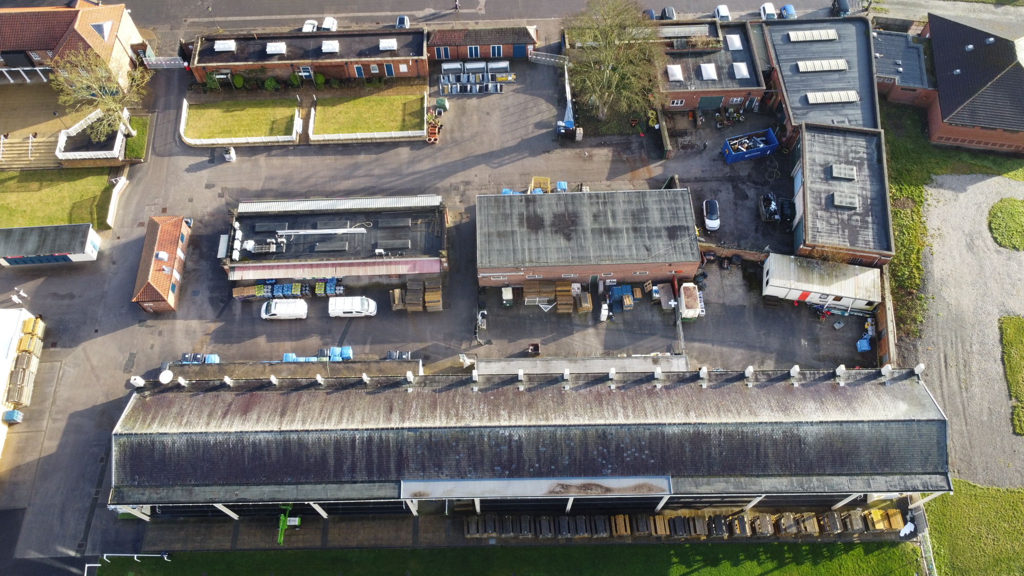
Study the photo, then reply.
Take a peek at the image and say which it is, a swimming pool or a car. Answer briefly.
car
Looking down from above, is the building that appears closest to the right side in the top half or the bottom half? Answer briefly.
top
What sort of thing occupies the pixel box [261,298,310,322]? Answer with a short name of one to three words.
vehicle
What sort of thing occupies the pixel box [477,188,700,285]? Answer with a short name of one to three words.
building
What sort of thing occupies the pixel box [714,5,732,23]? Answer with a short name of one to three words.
car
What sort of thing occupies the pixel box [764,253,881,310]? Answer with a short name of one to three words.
building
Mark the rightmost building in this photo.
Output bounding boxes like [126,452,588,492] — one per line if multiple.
[921,12,1024,152]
